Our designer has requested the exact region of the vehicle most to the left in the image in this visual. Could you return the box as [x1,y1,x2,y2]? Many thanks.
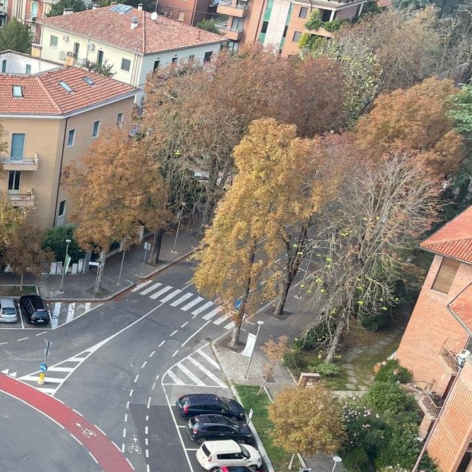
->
[0,293,19,320]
